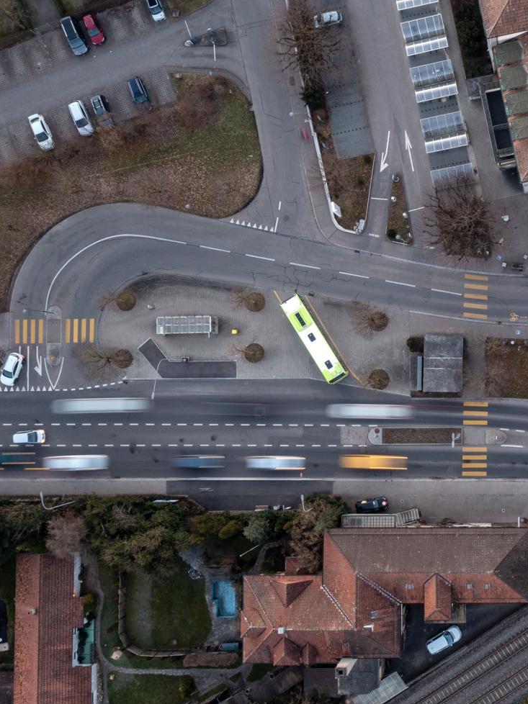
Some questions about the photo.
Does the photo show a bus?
Yes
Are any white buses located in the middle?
Yes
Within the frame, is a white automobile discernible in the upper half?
Yes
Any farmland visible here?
No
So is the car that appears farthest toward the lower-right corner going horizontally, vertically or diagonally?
diagonally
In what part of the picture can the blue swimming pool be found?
bottom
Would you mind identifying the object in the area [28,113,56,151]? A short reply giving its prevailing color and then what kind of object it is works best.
white car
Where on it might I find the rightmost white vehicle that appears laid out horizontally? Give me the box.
[349,402,394,420]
